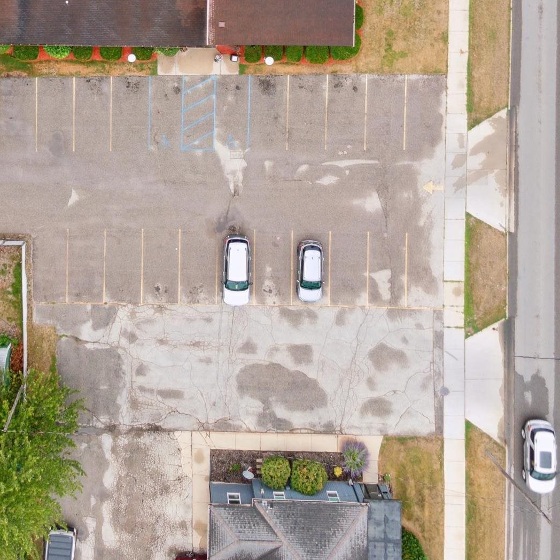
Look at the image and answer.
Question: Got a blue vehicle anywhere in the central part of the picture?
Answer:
No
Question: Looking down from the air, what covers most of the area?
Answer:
paved ground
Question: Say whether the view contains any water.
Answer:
No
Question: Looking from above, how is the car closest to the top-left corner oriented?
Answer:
up and down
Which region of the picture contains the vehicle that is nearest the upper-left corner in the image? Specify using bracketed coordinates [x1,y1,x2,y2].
[220,233,253,306]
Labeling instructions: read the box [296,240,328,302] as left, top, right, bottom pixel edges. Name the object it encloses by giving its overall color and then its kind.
white car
